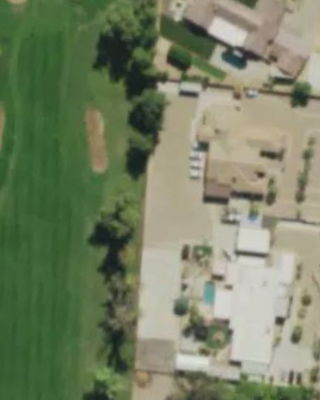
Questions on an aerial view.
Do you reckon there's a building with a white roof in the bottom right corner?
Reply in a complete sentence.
Yes, looking in the bottom right corner, one can make out a building with a white roof.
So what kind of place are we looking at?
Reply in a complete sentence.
The picture captures a golf course.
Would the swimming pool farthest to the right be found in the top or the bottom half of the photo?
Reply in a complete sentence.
The top half of the photo is where the swimming pool farthest to the right is.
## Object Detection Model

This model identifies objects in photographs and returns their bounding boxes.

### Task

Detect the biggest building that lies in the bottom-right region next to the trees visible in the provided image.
[213,253,296,373]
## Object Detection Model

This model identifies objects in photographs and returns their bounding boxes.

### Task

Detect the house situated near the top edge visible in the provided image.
[185,0,310,79]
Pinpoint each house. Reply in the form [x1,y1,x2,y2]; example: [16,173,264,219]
[185,0,310,79]
[197,125,287,201]
[213,253,296,373]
